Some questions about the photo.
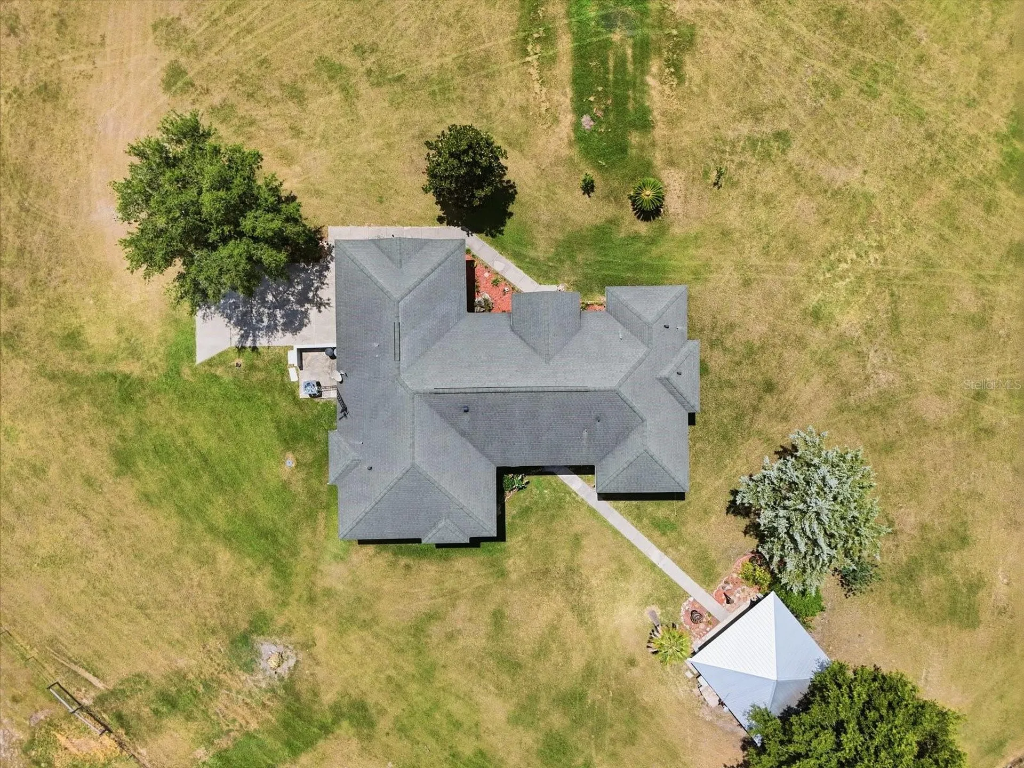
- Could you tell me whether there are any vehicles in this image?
No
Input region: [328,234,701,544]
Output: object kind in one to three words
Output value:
house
